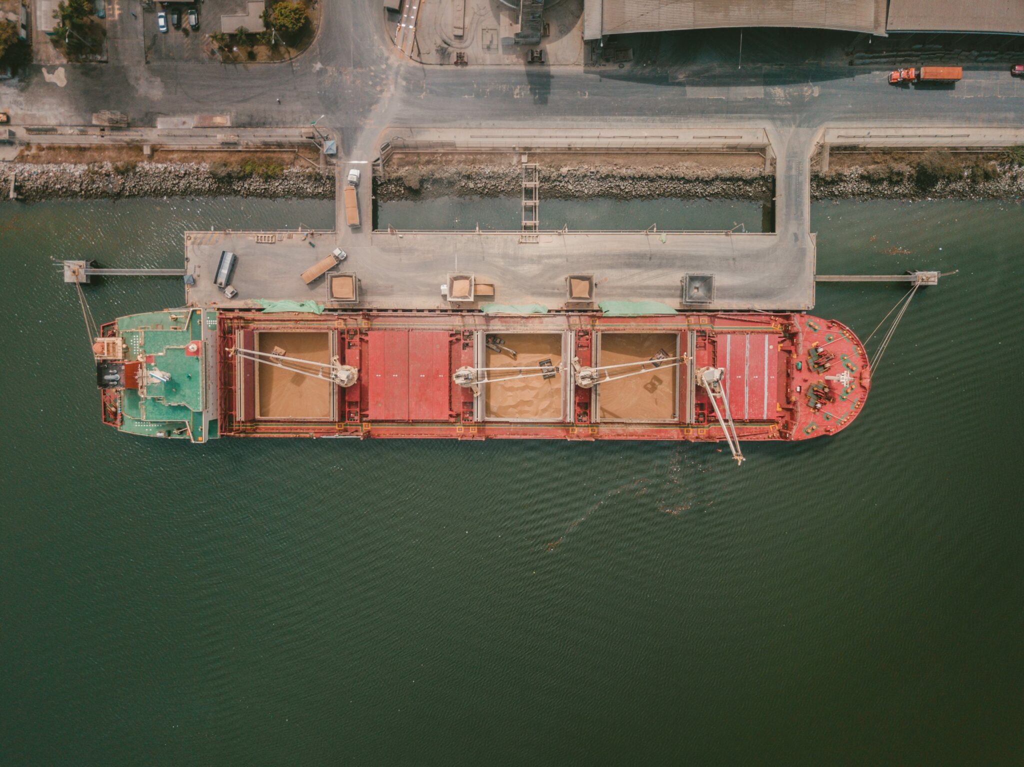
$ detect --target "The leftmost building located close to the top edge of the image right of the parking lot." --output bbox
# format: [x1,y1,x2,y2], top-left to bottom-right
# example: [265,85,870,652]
[221,0,270,39]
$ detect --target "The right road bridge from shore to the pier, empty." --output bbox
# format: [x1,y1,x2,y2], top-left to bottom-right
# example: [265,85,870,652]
[773,158,811,234]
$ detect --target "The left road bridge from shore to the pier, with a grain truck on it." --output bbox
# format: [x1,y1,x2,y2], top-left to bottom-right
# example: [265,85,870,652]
[336,161,373,234]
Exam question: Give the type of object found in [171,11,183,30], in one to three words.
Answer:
vehicle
